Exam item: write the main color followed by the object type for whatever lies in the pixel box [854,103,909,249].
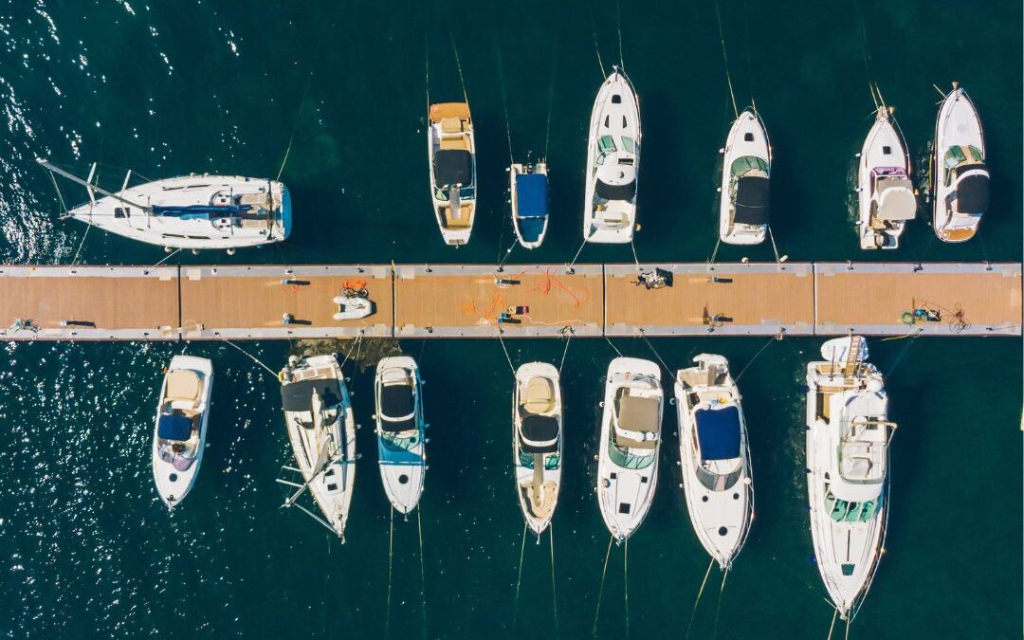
white boat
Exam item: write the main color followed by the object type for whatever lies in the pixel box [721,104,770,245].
white boat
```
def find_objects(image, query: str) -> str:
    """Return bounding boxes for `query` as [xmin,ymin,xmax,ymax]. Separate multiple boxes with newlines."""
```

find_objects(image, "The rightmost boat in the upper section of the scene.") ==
[927,84,986,242]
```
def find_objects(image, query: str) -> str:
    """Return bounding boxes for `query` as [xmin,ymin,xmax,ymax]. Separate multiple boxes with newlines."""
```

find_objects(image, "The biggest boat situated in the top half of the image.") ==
[30,165,293,250]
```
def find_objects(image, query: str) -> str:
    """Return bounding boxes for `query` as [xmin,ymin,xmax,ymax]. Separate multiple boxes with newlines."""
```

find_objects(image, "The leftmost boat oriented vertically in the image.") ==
[155,354,214,514]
